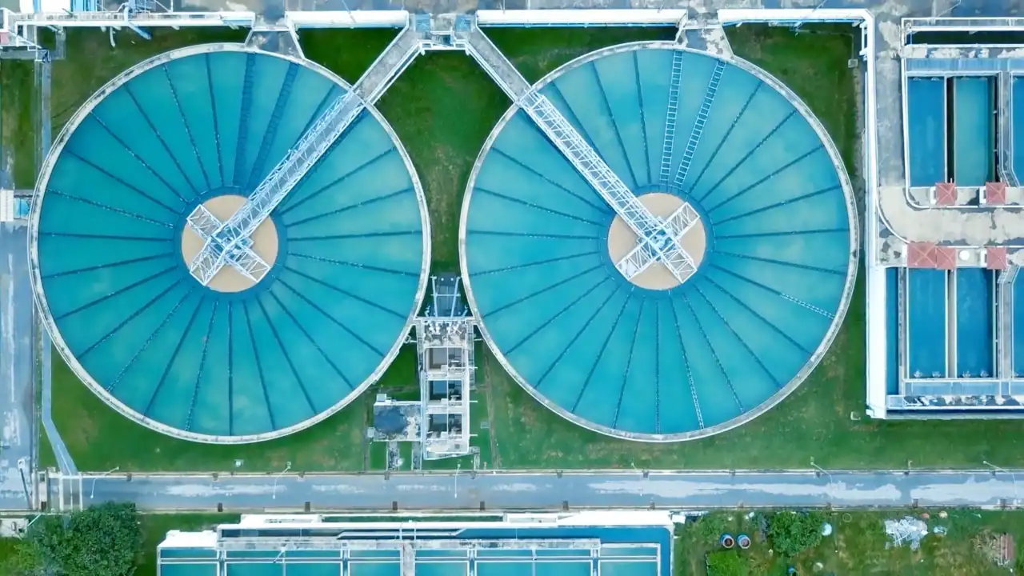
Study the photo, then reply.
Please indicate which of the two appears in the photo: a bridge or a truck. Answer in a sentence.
It is a bridge that can be seen here.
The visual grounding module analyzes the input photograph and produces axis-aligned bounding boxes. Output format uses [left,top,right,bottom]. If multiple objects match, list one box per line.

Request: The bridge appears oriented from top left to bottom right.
[520,91,700,284]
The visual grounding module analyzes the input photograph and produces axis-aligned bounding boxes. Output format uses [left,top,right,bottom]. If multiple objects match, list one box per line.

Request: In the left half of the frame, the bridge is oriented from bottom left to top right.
[185,89,366,285]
